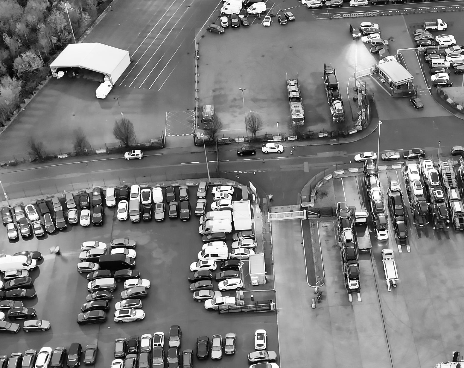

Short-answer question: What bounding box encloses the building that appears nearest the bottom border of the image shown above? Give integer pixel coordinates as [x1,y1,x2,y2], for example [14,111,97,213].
[248,248,266,283]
